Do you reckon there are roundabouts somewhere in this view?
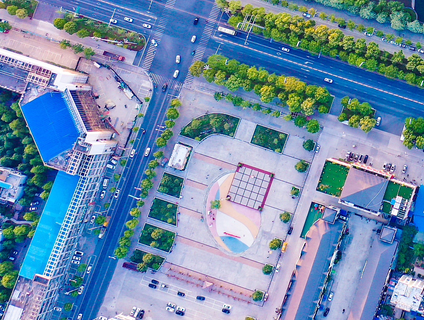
No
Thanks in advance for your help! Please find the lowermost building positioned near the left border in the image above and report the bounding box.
[2,274,69,320]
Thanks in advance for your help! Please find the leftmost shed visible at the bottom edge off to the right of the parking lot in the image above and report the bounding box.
[281,219,349,320]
